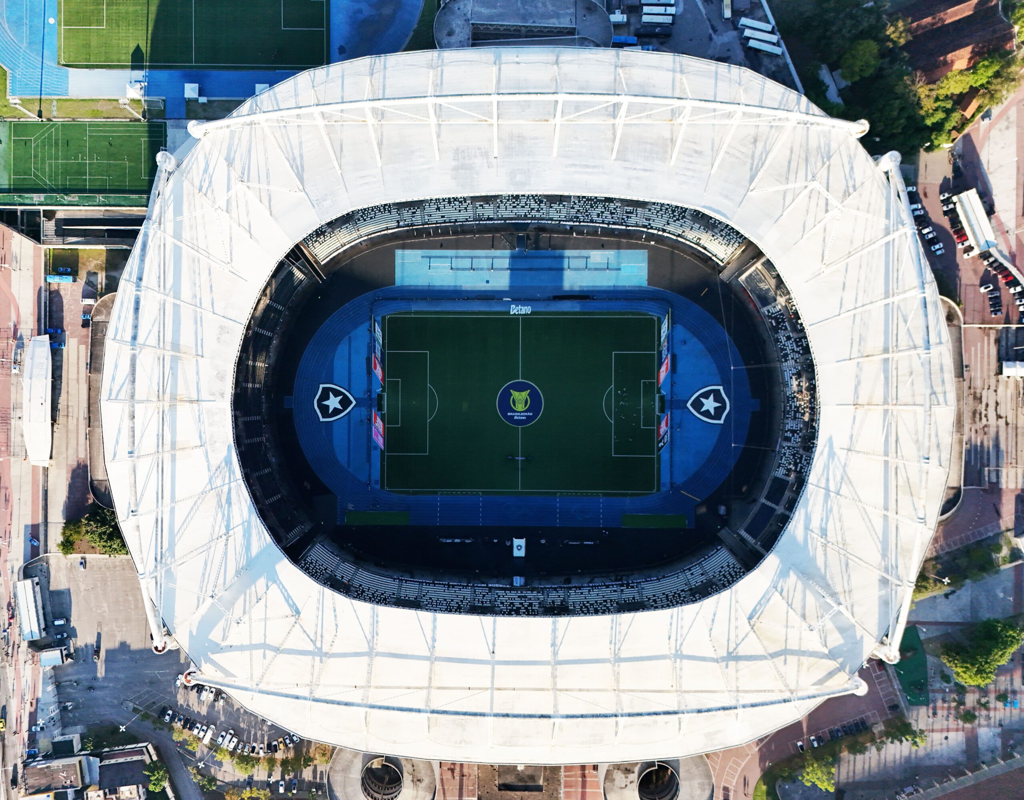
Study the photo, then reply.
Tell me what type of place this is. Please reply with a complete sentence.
This looks like a sports ground.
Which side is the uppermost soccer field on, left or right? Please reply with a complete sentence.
It is on the left.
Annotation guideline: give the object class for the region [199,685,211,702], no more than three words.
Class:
vehicle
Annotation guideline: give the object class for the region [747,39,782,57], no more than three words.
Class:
vehicle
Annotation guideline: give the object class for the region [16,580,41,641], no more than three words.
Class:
building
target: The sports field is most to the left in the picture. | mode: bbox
[9,121,167,193]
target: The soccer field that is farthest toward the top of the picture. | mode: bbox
[58,0,330,69]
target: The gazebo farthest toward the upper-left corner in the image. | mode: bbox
[126,84,144,99]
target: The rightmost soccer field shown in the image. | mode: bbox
[380,311,661,497]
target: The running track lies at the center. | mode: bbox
[285,285,759,528]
